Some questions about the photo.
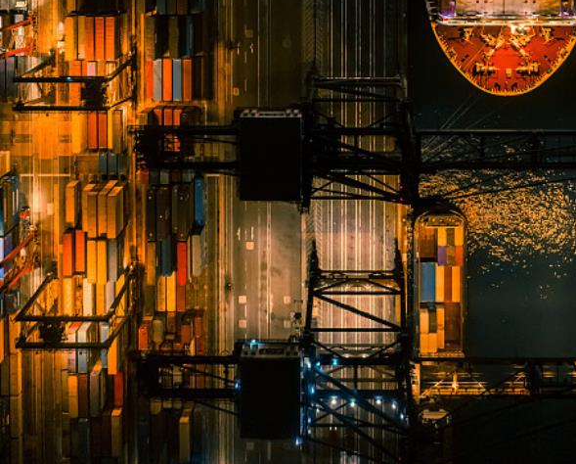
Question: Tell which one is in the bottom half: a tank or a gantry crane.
gantry crane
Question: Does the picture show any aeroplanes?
No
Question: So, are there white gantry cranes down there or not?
No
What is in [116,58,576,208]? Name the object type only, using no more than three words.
container crane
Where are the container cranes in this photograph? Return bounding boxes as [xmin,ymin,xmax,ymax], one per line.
[0,11,38,62]
[116,240,576,464]
[7,56,134,112]
[116,58,576,208]
[8,263,134,345]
